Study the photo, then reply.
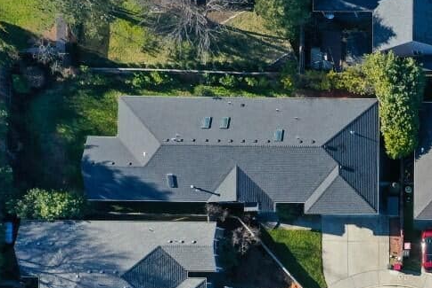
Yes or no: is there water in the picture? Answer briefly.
No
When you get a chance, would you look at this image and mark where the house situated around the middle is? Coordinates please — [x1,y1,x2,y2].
[77,95,379,214]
